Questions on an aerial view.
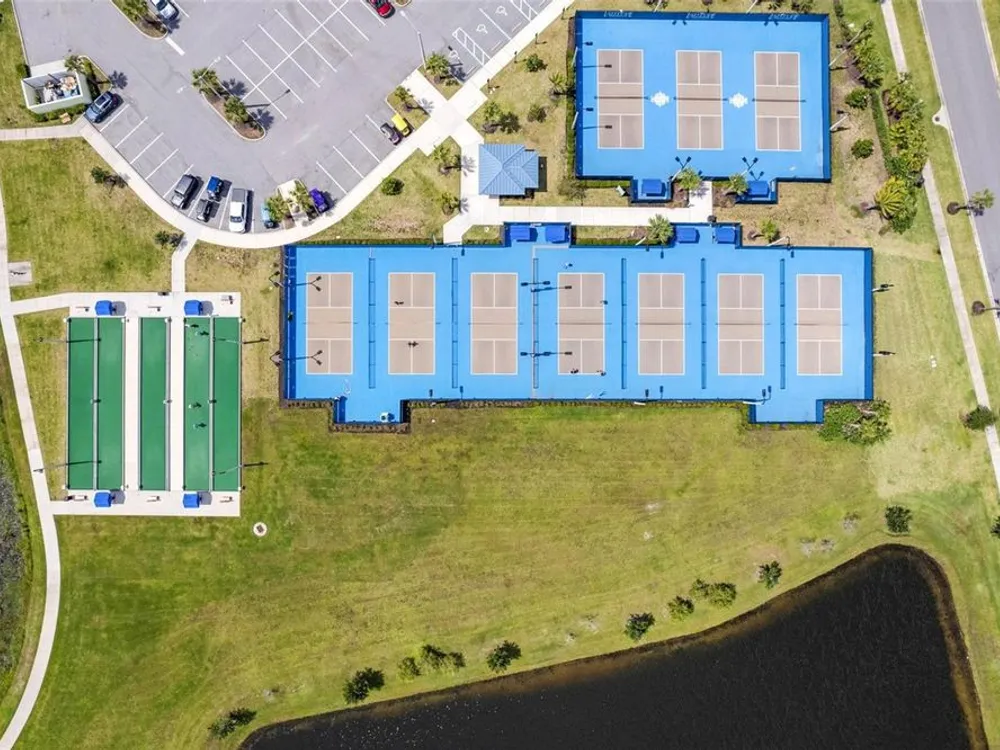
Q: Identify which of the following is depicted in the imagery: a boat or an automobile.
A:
automobile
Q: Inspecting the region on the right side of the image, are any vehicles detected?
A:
No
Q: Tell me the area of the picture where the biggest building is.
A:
top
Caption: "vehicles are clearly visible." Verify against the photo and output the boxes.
[170,171,198,209]
[380,120,400,144]
[205,175,224,197]
[226,186,247,231]
[311,187,329,212]
[259,203,275,226]
[80,87,114,121]
[368,0,395,18]
[194,196,212,218]
[393,110,412,134]
[146,0,174,21]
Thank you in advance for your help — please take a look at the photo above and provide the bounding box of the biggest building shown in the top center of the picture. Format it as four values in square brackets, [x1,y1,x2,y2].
[479,144,539,196]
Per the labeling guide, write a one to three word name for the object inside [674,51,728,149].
sports court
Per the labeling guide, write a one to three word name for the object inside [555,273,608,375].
sports court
